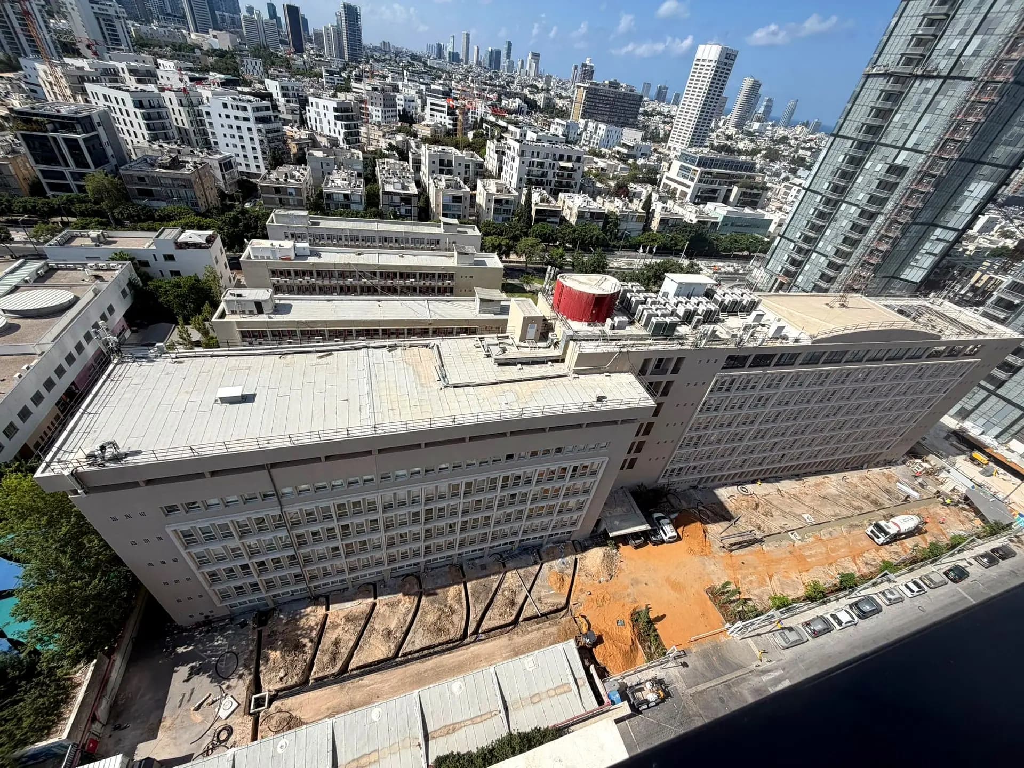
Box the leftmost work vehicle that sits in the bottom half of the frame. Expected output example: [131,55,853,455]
[572,613,602,655]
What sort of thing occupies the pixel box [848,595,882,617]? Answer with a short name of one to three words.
car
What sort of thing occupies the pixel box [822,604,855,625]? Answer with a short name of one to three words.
car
